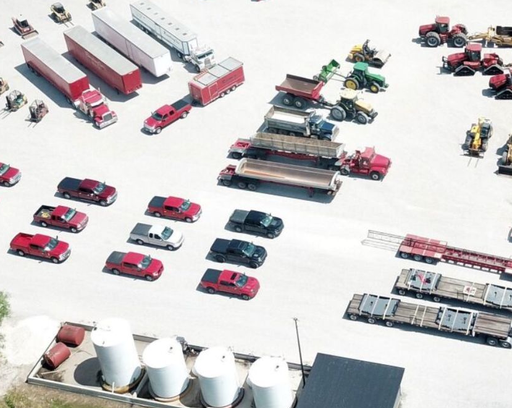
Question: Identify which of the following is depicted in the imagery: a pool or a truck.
truck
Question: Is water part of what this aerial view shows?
No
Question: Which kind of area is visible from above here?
industrial area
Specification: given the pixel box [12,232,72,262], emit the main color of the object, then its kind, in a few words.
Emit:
red truck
